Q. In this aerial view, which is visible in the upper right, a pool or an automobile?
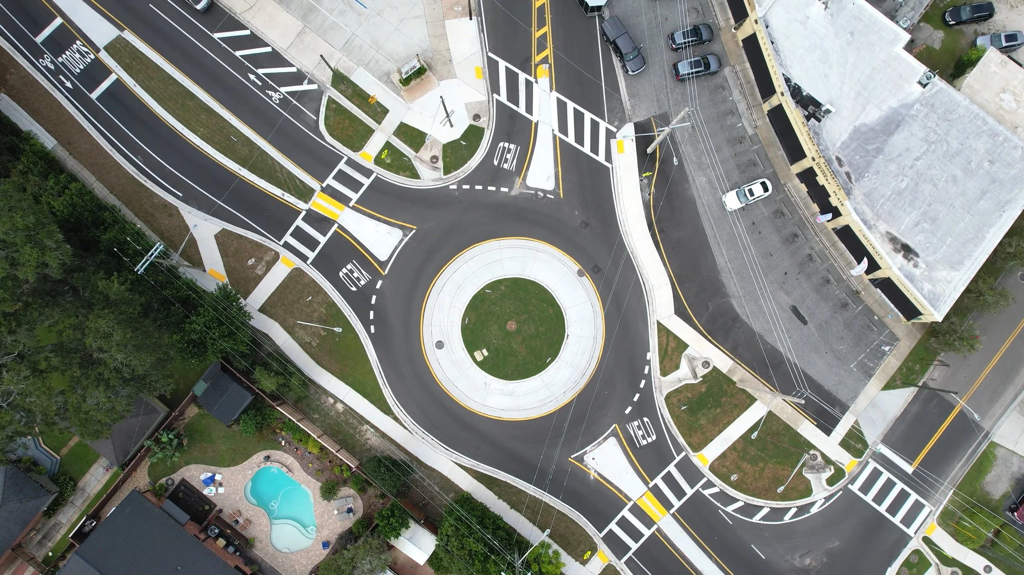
automobile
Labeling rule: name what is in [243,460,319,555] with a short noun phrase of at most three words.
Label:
swimming pool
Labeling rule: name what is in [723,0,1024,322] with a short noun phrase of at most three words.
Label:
building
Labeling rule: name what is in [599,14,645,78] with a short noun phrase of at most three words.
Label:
truck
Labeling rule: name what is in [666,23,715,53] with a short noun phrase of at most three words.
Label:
car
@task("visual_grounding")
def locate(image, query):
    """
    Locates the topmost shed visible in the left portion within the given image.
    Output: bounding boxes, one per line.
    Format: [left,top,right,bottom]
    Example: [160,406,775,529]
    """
[191,365,258,425]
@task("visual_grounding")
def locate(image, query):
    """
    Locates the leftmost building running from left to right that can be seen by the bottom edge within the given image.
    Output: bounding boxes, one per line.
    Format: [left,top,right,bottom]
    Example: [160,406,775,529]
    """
[60,480,269,575]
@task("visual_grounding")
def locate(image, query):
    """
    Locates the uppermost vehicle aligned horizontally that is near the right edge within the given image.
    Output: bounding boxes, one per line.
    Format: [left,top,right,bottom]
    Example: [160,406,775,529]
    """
[941,0,997,29]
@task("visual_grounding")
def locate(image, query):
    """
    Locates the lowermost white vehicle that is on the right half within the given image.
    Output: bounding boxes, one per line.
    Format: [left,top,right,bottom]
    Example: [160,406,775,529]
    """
[720,179,775,210]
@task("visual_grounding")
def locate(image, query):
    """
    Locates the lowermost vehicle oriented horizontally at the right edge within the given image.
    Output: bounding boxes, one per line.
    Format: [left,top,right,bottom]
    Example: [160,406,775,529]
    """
[974,29,1024,53]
